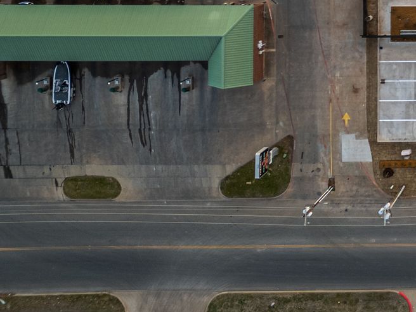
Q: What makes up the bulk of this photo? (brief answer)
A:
paved ground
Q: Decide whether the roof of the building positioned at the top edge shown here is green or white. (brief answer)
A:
green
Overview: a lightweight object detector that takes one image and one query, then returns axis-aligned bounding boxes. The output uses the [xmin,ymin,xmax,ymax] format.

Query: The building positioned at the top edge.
[0,5,265,88]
